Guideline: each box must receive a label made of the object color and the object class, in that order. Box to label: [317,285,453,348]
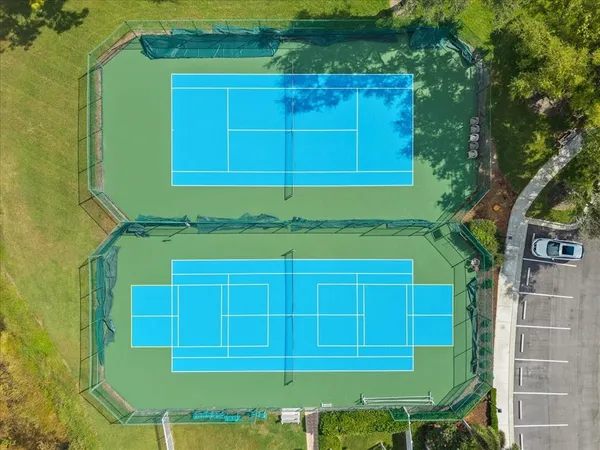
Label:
blue sports court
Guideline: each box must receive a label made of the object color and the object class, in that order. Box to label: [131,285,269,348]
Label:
blue sports court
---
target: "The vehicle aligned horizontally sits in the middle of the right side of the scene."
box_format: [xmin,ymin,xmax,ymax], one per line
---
[531,237,584,261]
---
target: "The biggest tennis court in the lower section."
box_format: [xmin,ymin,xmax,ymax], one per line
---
[105,223,476,408]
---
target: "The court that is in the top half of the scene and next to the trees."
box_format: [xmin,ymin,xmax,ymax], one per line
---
[104,36,477,223]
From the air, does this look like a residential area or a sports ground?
sports ground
